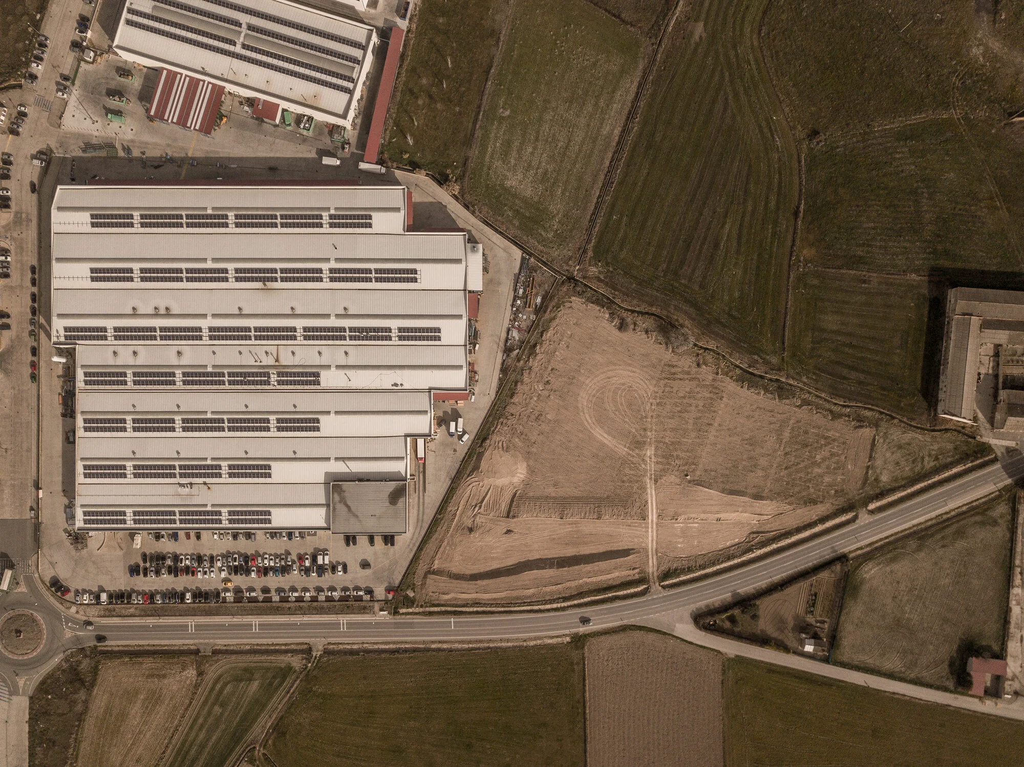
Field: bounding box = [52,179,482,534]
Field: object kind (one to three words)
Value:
warehouse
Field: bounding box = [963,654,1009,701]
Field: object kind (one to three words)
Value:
house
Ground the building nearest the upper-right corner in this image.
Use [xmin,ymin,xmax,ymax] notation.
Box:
[934,287,1024,432]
